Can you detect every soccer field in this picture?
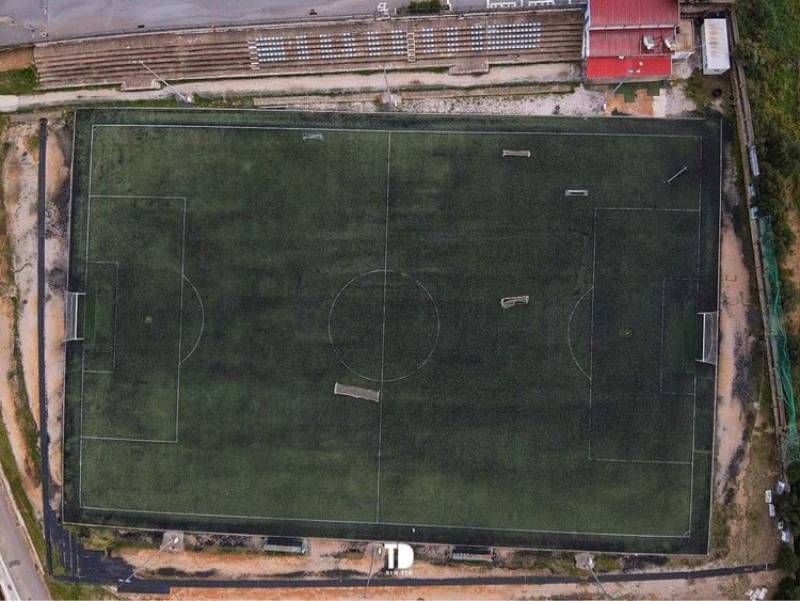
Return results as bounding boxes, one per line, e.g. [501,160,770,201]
[61,108,723,555]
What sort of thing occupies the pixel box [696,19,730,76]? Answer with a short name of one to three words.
building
